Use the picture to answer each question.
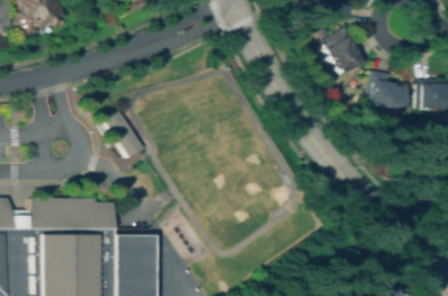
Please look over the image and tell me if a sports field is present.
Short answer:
Yes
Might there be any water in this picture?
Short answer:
No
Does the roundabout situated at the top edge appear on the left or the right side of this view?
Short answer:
right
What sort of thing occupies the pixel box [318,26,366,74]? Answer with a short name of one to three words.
house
